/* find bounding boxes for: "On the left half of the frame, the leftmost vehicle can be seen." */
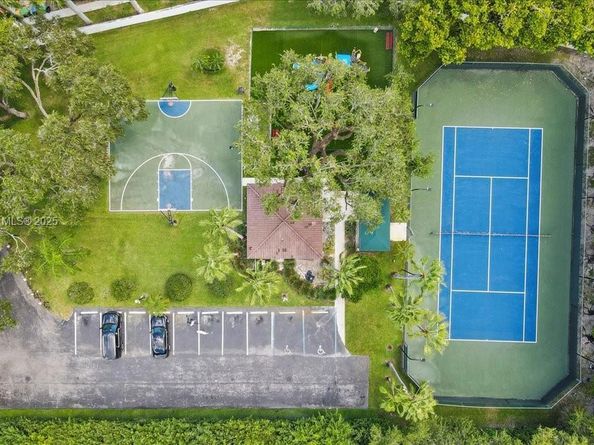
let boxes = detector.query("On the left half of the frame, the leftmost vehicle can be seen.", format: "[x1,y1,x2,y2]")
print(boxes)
[98,311,121,358]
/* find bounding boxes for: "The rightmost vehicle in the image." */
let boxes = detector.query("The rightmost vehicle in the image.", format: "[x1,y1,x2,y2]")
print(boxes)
[147,314,169,359]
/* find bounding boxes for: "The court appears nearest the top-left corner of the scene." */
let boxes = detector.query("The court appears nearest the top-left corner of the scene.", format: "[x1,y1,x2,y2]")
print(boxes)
[110,99,242,211]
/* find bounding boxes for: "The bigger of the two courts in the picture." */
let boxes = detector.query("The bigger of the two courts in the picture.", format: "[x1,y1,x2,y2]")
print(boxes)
[402,71,575,399]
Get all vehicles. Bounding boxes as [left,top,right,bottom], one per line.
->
[98,311,121,358]
[147,314,169,359]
